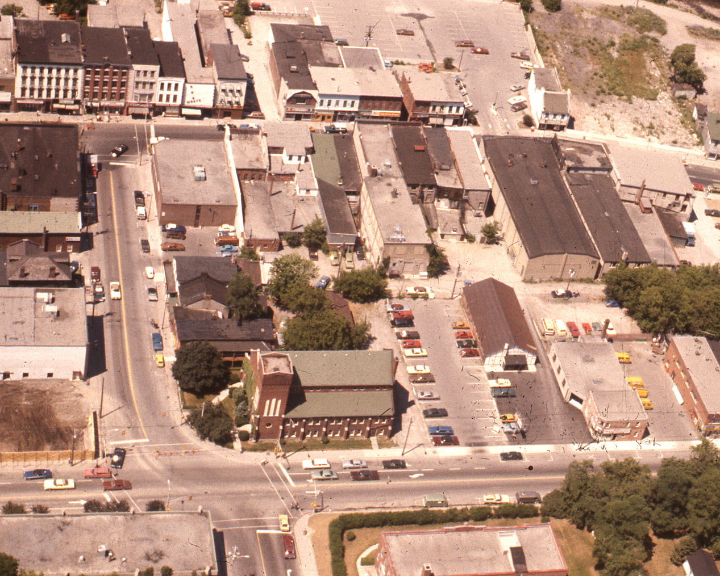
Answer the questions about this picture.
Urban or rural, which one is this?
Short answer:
urban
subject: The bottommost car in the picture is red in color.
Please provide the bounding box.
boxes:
[282,536,295,559]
